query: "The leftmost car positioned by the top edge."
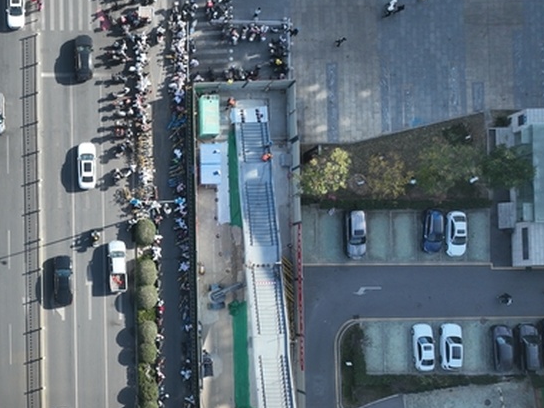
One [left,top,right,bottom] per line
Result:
[4,0,27,31]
